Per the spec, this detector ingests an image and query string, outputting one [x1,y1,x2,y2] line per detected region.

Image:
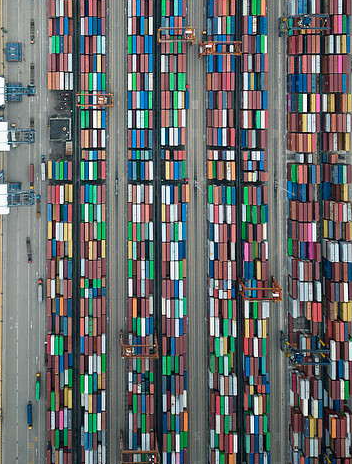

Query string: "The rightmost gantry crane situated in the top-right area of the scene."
[279,14,329,37]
